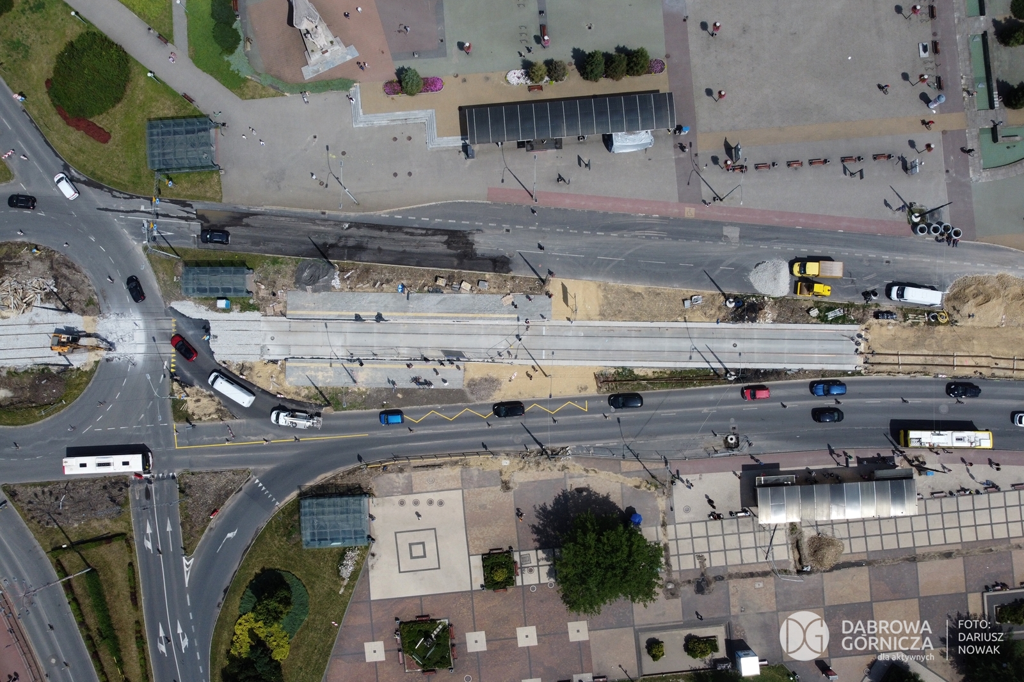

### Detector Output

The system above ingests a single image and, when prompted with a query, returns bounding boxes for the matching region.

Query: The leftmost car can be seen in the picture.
[7,194,39,209]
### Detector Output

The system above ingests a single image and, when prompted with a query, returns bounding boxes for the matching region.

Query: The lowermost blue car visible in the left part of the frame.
[379,410,405,425]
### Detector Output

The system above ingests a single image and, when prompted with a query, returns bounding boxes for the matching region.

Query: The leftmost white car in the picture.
[54,172,81,201]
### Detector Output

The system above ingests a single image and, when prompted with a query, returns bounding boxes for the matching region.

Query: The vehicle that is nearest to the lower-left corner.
[62,451,157,474]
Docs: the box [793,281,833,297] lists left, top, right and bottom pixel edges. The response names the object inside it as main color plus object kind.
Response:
yellow work vehicle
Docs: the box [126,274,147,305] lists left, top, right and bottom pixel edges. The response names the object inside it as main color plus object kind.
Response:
black car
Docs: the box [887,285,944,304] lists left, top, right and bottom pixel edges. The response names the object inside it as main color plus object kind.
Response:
white vehicle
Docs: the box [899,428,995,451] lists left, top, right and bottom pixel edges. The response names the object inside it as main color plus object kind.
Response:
white bus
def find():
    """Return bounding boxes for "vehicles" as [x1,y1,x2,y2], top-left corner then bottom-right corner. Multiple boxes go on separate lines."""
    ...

[212,372,255,407]
[742,385,771,400]
[50,333,113,353]
[379,410,405,425]
[1010,412,1024,425]
[899,428,995,451]
[272,408,328,429]
[172,334,199,362]
[608,393,642,409]
[126,274,147,305]
[793,281,833,297]
[7,194,39,209]
[887,285,944,304]
[789,260,846,277]
[54,172,81,201]
[493,401,525,417]
[62,451,157,474]
[810,380,846,396]
[200,228,233,244]
[946,382,982,397]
